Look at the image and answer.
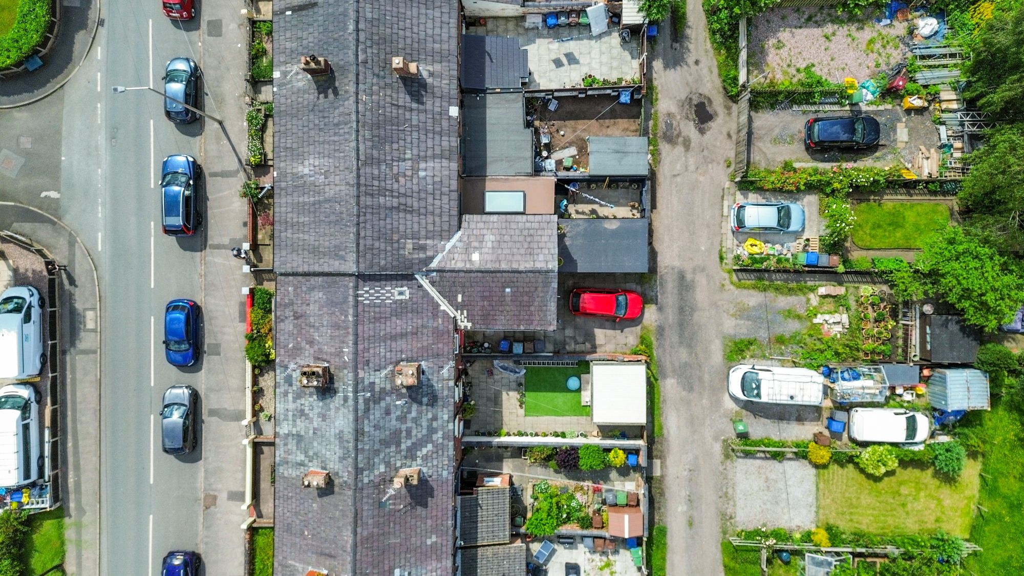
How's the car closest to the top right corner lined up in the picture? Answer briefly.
horizontally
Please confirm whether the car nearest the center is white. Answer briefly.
No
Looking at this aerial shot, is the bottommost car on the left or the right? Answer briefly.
left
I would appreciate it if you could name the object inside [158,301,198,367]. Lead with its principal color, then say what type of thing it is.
blue car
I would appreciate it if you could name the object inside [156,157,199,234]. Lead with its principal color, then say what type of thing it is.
blue car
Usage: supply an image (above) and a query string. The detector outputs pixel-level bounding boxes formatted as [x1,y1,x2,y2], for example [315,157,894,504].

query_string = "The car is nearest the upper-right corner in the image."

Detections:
[808,111,883,148]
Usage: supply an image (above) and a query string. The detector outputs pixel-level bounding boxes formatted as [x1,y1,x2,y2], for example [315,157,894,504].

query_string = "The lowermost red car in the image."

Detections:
[572,287,643,324]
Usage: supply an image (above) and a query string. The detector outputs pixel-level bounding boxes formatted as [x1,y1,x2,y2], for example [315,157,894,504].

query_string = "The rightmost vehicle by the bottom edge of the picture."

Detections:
[160,553,197,576]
